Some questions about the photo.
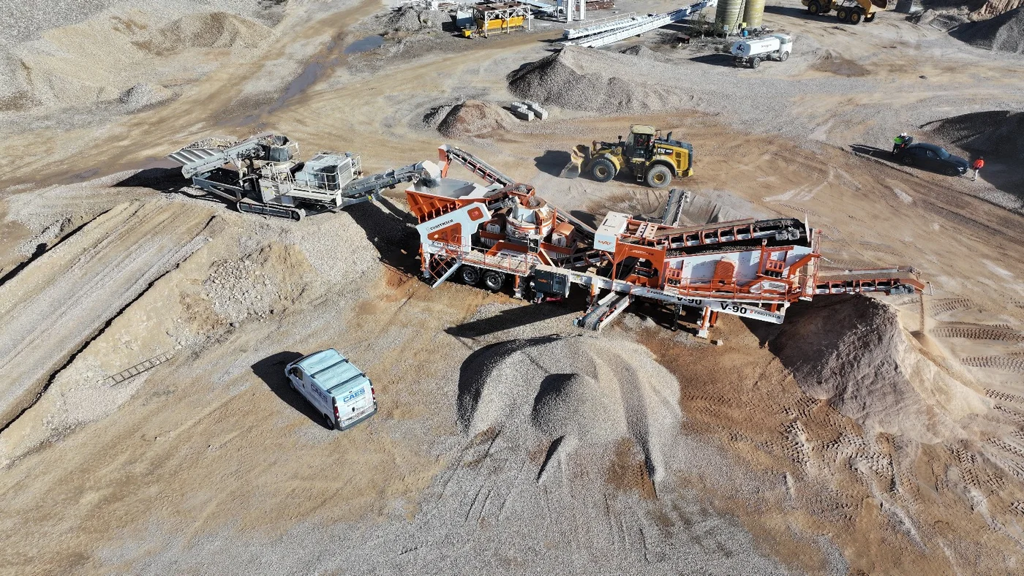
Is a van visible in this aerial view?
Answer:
Yes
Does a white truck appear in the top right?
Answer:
Yes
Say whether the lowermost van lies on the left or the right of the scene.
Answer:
left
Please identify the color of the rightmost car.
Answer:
black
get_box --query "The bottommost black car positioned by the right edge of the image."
[895,127,974,175]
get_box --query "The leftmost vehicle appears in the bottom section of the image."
[280,344,381,437]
